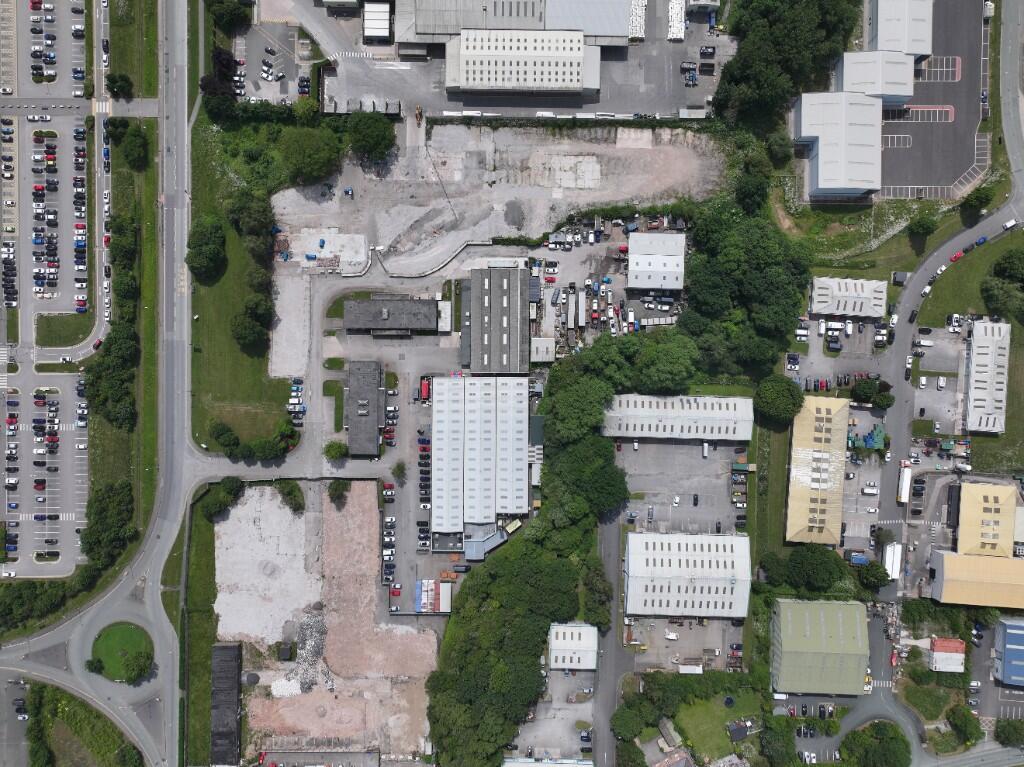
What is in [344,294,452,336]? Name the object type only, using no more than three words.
building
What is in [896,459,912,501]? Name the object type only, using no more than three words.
vehicle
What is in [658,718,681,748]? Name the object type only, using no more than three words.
shed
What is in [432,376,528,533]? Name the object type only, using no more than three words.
building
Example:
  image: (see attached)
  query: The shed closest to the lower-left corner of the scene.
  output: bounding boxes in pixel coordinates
[211,639,245,767]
